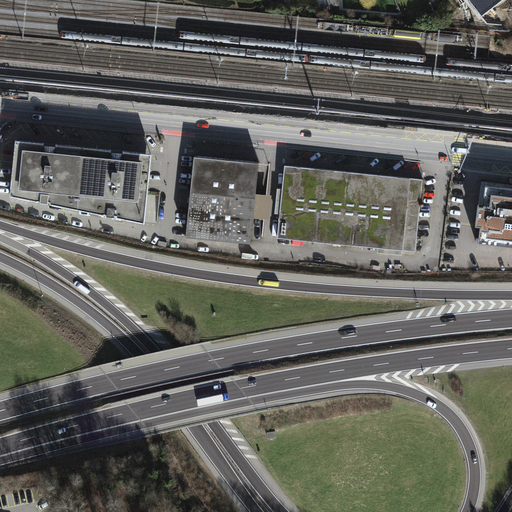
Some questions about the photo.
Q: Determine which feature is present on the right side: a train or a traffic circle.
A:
train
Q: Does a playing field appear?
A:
No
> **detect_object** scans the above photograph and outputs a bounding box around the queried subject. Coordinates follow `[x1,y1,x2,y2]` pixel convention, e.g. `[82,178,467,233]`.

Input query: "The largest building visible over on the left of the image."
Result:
[9,140,151,224]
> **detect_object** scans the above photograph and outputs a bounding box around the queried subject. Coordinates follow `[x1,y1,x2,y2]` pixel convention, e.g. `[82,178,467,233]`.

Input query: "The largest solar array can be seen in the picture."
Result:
[80,158,106,196]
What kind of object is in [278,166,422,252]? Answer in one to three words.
building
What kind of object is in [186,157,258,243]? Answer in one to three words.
building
